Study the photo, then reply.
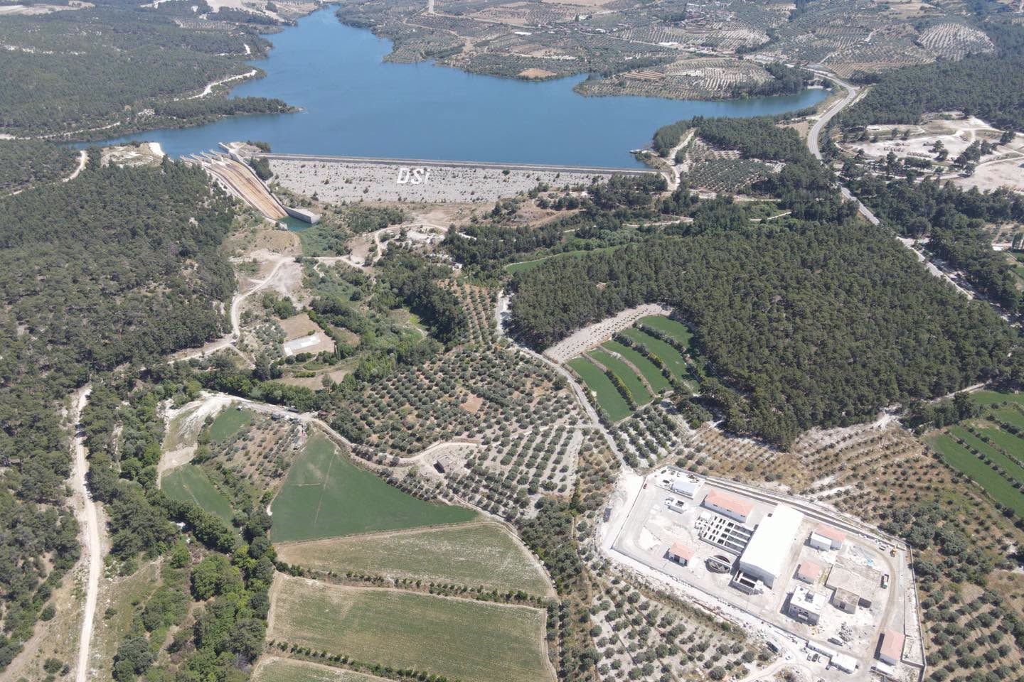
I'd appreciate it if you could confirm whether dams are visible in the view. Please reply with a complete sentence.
Yes, there is a dam in the image.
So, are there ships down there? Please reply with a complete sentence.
No, no ship is visible in the view.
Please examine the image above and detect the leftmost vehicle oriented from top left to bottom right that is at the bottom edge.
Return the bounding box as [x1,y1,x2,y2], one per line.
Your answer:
[762,631,788,656]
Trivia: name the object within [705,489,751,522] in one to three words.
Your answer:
house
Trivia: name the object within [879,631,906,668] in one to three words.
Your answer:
house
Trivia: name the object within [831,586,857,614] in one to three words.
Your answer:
building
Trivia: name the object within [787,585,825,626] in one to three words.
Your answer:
building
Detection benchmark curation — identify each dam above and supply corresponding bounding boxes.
[260,155,674,209]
